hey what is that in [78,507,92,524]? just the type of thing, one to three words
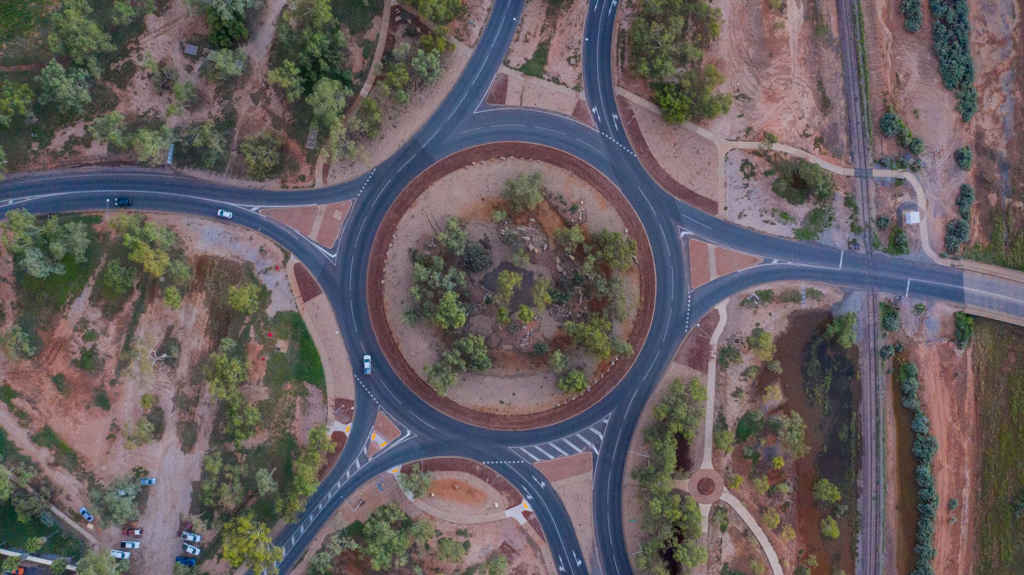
car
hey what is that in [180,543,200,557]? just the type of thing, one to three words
vehicle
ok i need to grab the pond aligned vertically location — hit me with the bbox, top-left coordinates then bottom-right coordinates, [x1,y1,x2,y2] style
[755,306,857,575]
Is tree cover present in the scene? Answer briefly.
Yes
